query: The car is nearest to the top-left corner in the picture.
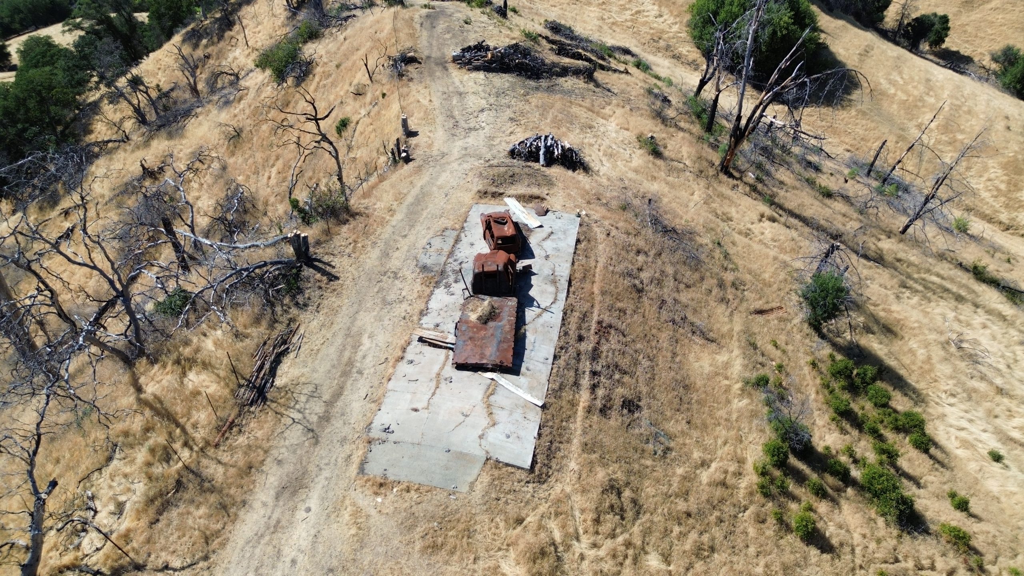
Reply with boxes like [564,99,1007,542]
[477,204,518,252]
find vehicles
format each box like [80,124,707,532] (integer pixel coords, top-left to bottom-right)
[477,204,518,252]
[450,251,518,371]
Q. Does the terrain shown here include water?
No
